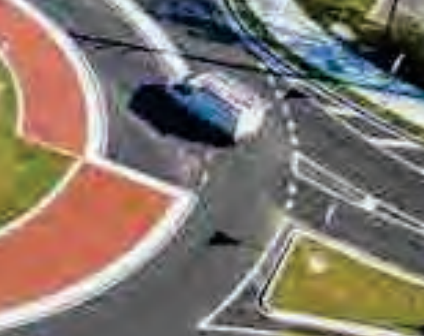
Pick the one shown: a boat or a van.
van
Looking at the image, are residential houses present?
No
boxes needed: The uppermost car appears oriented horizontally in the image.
[155,0,244,39]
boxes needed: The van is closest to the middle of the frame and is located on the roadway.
[161,63,269,131]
